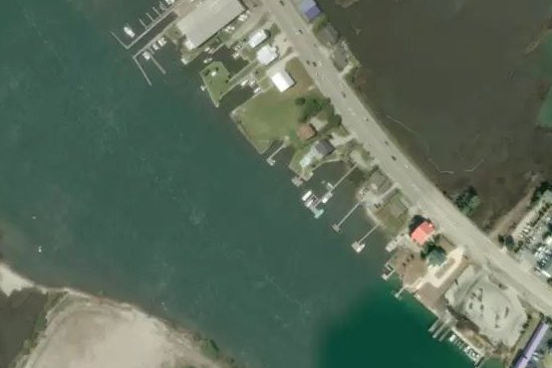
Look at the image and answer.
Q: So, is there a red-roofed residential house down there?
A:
Yes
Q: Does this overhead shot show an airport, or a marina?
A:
marina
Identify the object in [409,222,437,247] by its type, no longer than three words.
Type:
house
